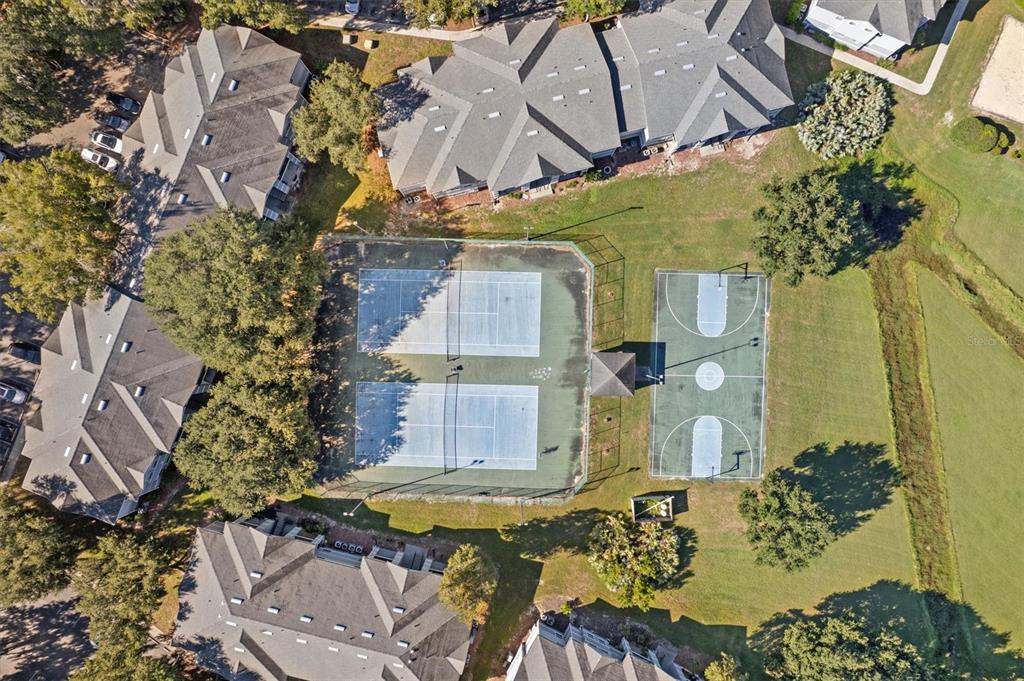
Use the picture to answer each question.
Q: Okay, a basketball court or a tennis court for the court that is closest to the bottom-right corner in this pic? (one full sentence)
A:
What you see as the court that is closest to the bottom-right corner is a basketball court.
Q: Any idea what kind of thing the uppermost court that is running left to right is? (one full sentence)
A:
The uppermost court that is running left to right in the image is a tennis court.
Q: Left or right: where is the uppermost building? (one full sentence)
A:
The uppermost building appears in the right half of the scene.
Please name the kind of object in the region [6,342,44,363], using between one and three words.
car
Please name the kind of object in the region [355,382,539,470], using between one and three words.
tennis court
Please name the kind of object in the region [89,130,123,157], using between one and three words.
car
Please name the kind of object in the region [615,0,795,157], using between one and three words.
building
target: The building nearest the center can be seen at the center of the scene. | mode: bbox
[590,352,636,396]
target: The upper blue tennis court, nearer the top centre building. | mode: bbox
[357,268,542,357]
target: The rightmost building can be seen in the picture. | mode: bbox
[801,0,942,59]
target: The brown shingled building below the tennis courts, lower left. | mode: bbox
[167,509,475,681]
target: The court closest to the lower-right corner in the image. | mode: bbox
[650,270,771,481]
